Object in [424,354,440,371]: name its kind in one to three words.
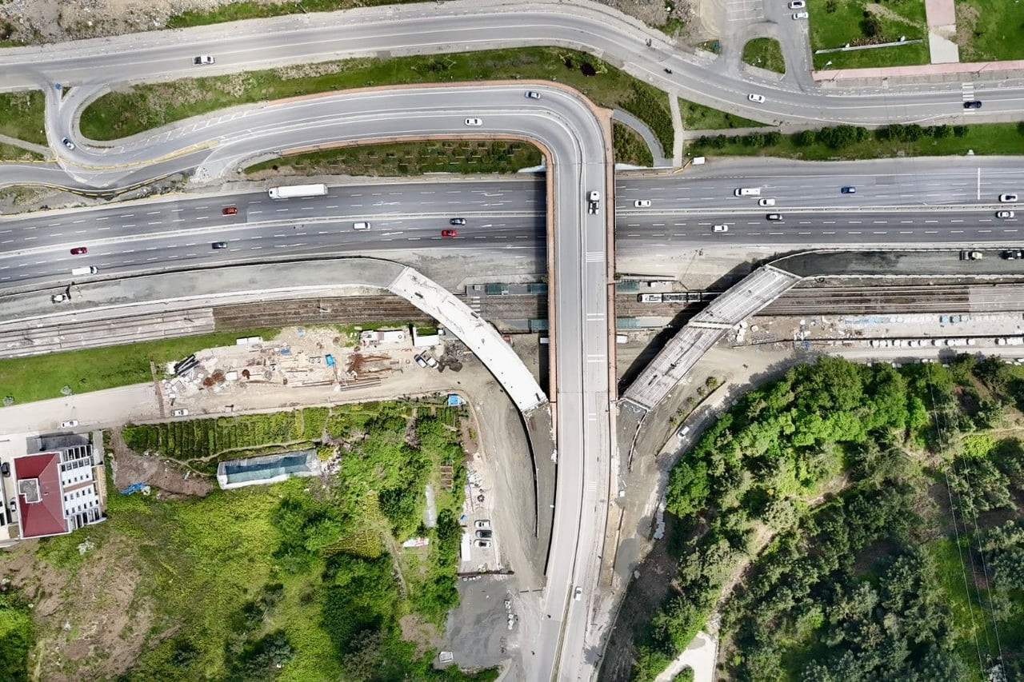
vehicle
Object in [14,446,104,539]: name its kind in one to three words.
building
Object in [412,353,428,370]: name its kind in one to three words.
car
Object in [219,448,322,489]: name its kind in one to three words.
greenhouse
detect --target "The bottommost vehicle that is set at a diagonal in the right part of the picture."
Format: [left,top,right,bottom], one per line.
[675,423,691,442]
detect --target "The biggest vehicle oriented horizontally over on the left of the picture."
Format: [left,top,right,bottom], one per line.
[267,181,327,198]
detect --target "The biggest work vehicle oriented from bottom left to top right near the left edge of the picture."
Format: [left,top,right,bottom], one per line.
[44,279,74,308]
